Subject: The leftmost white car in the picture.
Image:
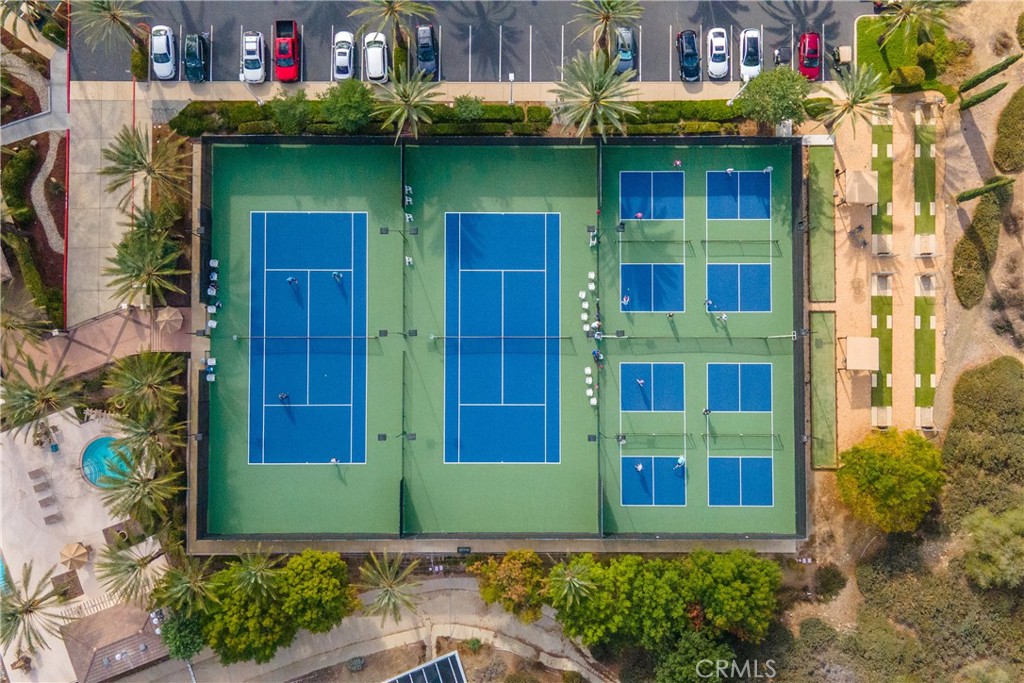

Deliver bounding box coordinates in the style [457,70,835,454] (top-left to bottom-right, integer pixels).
[150,26,176,81]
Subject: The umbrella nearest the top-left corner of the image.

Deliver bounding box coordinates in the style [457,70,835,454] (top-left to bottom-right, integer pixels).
[157,306,184,333]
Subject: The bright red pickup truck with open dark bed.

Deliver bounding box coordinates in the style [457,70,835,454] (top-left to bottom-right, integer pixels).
[272,20,299,84]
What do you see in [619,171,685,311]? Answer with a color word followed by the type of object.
blue sports court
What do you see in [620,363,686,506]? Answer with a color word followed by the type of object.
blue sports court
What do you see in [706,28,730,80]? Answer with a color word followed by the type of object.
white car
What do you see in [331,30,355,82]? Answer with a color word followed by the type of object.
white car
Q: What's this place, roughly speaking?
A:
sports ground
